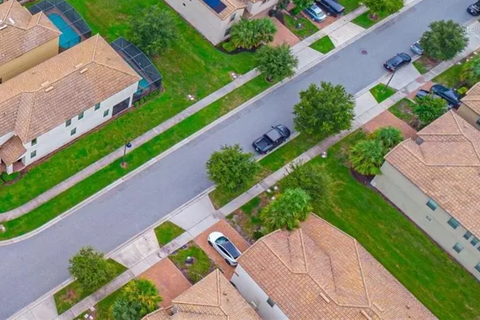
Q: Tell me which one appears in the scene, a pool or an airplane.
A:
pool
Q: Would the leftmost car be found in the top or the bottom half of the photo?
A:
bottom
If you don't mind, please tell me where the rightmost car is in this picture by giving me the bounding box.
[464,0,480,20]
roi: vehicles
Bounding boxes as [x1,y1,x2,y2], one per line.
[247,123,292,157]
[464,0,480,20]
[406,39,432,61]
[312,0,344,19]
[427,81,466,111]
[205,227,245,268]
[405,81,447,108]
[296,0,330,27]
[381,50,412,75]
